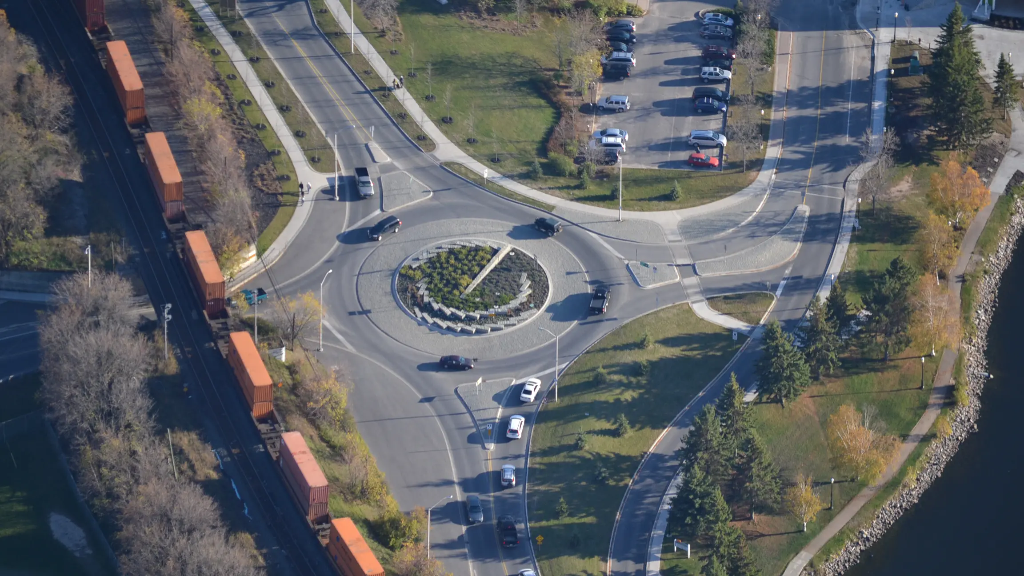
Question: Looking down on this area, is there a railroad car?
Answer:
Yes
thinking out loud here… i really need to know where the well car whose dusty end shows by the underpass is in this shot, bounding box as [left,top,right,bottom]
[178,234,233,346]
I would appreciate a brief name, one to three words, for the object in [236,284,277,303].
vehicle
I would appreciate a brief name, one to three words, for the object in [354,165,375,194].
truck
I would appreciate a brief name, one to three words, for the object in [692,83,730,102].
car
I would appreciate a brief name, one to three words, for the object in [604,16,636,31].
car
